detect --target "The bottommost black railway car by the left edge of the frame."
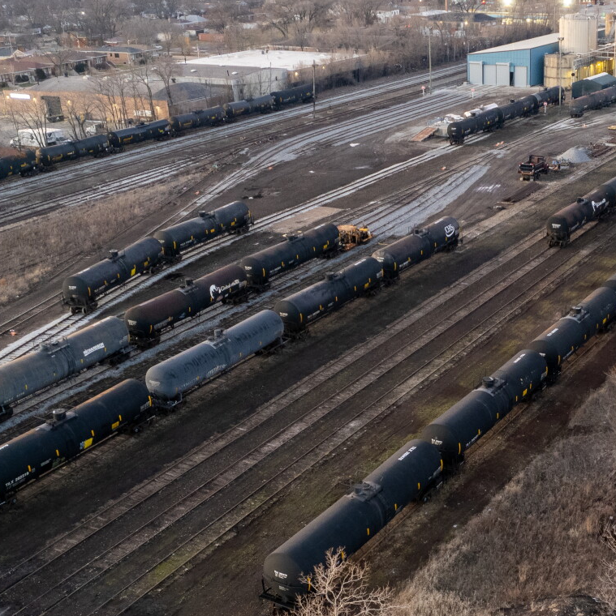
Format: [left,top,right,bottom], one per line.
[0,379,168,508]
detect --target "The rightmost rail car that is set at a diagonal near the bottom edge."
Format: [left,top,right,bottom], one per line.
[262,440,447,615]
